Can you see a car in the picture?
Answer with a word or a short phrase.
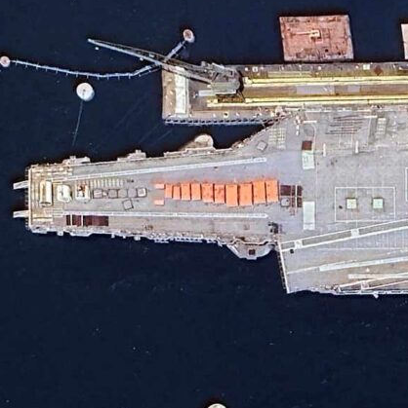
No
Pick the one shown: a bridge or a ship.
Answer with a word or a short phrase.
ship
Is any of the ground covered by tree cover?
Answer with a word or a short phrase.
No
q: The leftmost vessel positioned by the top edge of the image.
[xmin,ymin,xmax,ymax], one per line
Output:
[280,13,354,63]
